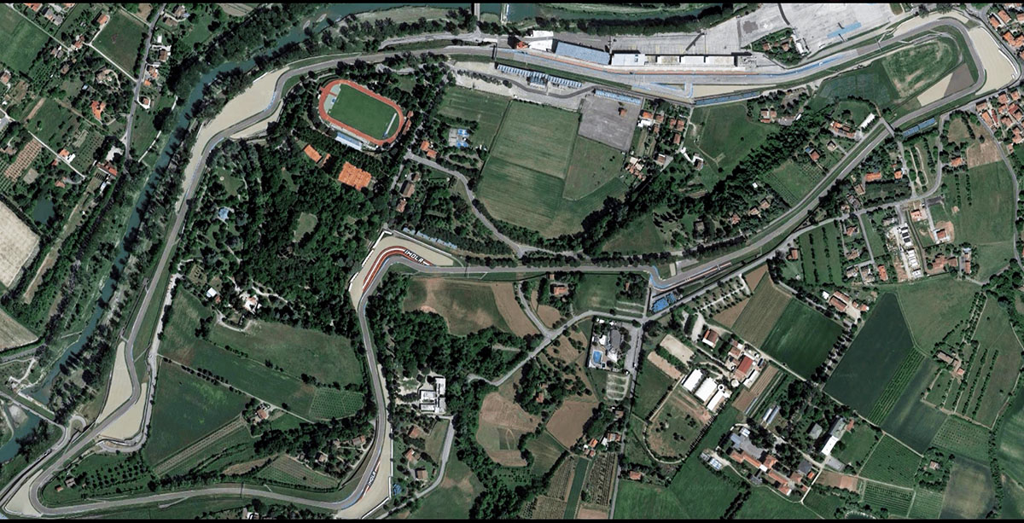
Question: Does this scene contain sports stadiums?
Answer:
Yes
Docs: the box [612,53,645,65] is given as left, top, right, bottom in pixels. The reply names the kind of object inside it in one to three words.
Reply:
building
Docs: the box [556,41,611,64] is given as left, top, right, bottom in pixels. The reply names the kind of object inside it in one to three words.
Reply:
building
